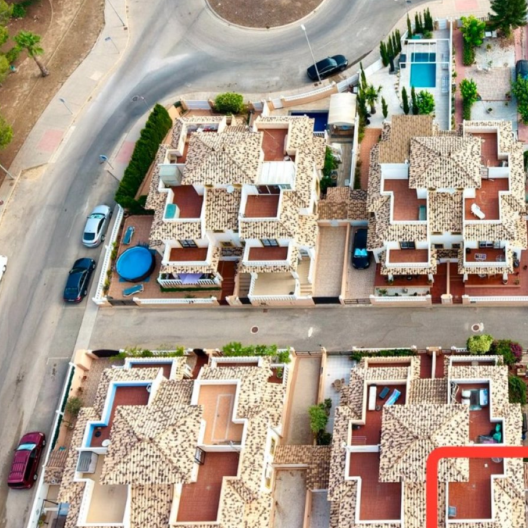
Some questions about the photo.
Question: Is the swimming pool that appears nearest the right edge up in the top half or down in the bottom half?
top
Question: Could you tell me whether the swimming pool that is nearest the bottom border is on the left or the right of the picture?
left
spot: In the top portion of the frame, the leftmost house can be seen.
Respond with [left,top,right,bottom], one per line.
[135,115,318,284]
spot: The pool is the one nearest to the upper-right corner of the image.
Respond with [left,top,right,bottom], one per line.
[406,49,440,90]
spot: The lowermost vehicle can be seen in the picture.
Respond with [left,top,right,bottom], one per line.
[1,432,48,489]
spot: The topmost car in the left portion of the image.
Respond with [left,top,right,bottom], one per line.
[81,205,113,244]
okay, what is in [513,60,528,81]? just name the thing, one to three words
car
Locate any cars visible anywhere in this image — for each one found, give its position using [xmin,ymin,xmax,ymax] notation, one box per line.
[513,60,528,81]
[1,432,48,489]
[348,230,373,270]
[61,258,96,301]
[307,54,349,80]
[81,205,113,244]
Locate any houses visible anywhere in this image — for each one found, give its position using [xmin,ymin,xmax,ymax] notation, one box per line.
[51,359,279,528]
[135,115,318,284]
[362,109,528,288]
[324,359,528,528]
